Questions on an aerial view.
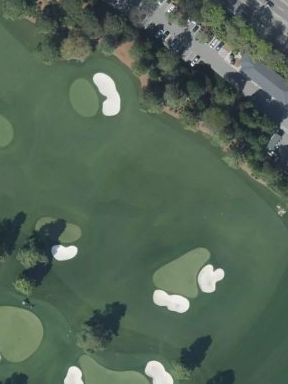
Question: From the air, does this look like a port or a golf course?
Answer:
golf course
